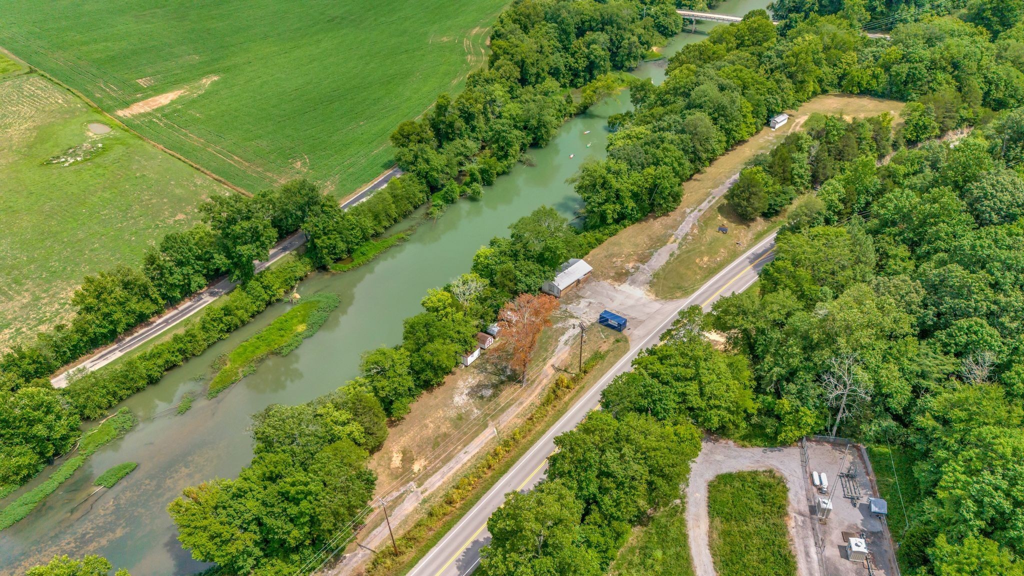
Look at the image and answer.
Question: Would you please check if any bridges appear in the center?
No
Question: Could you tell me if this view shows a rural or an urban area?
rural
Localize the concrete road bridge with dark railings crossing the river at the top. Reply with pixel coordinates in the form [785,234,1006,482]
[679,7,749,32]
